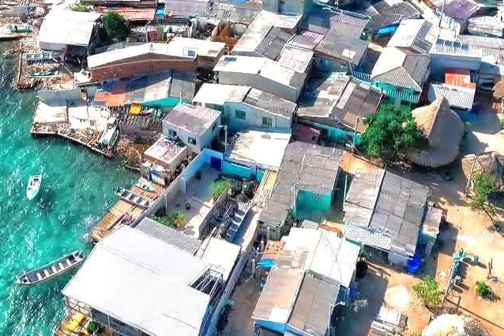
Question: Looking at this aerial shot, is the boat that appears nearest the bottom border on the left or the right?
left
